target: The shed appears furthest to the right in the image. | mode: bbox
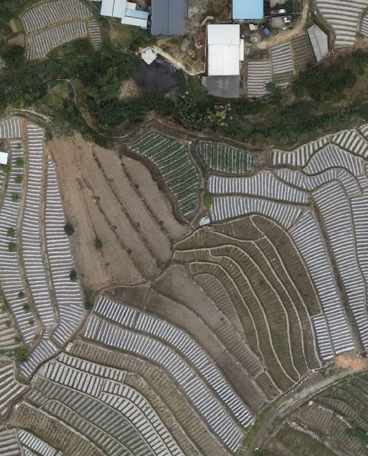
[308,25,328,62]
